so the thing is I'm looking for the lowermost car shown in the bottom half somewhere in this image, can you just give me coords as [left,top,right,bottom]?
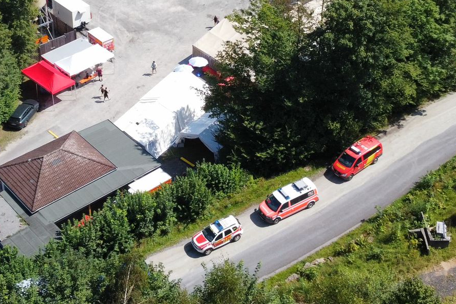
[188,210,246,256]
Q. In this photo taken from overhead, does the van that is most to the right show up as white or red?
red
